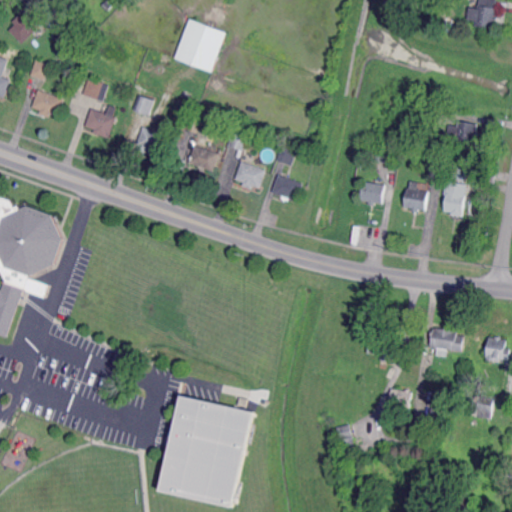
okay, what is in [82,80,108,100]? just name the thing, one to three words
building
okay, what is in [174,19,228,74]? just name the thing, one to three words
barn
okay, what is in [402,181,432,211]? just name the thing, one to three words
house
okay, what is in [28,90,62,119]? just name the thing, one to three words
house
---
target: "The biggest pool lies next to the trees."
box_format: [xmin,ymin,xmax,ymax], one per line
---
[260,148,276,164]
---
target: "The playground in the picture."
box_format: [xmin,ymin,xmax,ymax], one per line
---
[1,432,35,472]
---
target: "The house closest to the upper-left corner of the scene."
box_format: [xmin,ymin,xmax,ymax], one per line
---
[10,20,34,44]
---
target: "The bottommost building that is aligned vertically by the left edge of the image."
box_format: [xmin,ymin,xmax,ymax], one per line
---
[0,198,62,338]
